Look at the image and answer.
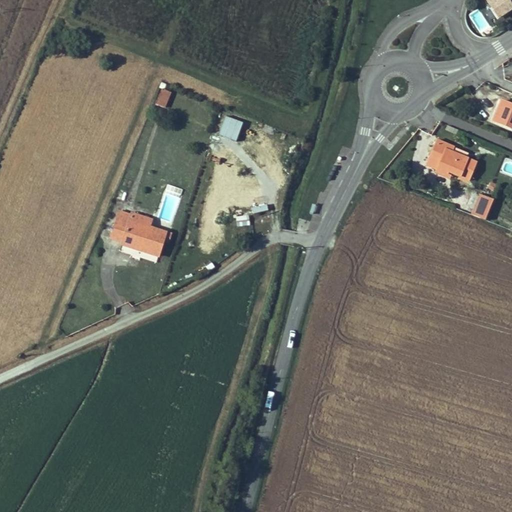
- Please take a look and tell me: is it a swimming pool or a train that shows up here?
swimming pool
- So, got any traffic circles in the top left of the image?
No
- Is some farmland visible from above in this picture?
Yes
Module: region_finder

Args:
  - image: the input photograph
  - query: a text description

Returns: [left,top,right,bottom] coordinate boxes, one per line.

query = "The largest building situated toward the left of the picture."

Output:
[110,210,167,263]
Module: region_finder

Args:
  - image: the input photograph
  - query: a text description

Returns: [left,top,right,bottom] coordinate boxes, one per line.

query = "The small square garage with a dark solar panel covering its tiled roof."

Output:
[472,194,495,218]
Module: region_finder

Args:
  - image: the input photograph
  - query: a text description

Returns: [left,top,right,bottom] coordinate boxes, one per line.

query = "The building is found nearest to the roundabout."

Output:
[427,138,478,182]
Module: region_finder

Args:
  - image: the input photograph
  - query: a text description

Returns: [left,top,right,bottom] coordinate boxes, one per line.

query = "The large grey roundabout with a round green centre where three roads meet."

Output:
[360,50,434,125]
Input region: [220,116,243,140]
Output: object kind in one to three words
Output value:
shed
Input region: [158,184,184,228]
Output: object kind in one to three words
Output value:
swimming pool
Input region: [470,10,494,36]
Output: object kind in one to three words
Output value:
swimming pool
